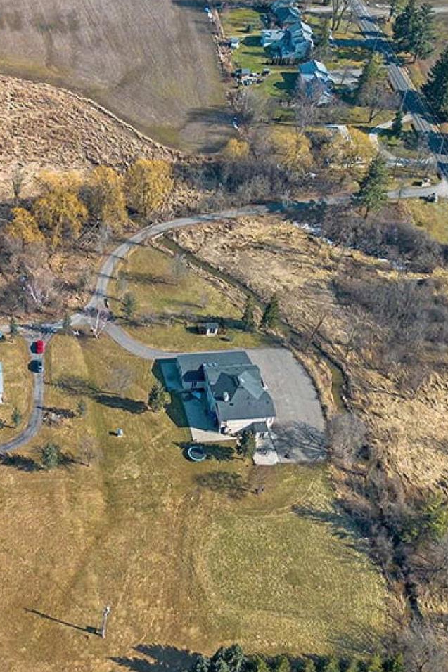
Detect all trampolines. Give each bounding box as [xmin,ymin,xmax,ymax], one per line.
[188,445,206,459]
